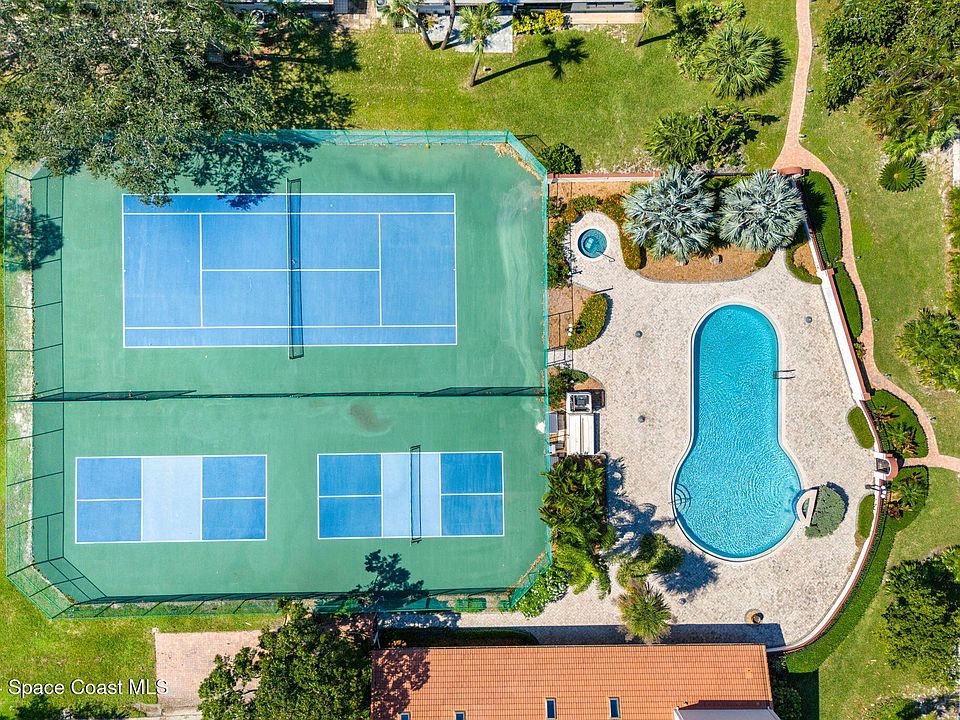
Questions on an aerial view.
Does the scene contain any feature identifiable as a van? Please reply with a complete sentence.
No, there's no van here.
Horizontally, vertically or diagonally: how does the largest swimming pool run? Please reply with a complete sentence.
What the image shows is the largest swimming pool lying vertically.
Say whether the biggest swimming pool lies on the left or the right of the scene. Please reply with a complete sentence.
You can find the biggest swimming pool on the right side of the picture.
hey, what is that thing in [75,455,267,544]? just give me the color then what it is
blue sports court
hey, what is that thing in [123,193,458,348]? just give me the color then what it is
blue tennis court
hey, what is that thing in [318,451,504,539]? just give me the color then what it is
blue sports court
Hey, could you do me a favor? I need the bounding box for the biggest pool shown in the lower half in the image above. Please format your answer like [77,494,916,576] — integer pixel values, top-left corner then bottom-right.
[668,301,804,564]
